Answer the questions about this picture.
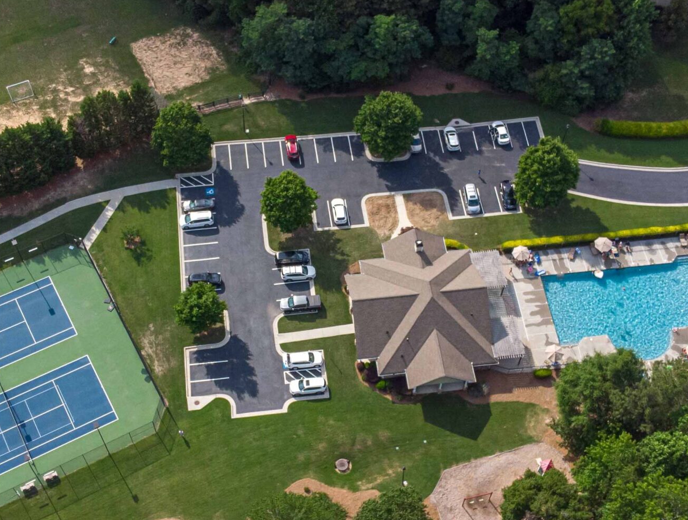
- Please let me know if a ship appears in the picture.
No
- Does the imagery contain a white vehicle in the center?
Yes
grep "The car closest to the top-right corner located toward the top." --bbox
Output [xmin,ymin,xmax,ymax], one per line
[489,122,509,146]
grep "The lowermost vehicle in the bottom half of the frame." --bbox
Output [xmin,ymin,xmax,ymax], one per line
[291,377,327,395]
